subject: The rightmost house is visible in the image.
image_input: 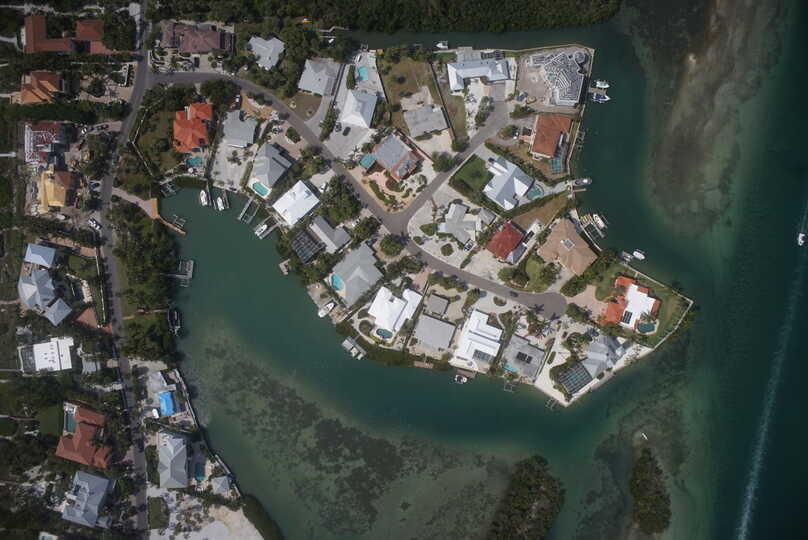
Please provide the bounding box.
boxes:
[601,278,661,329]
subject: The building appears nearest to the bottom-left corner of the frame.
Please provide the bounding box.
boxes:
[62,471,114,528]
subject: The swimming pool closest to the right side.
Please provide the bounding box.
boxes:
[638,321,656,334]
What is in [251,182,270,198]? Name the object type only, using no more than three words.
swimming pool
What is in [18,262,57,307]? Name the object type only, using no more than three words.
house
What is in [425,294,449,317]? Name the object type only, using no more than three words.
building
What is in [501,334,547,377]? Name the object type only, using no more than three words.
house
